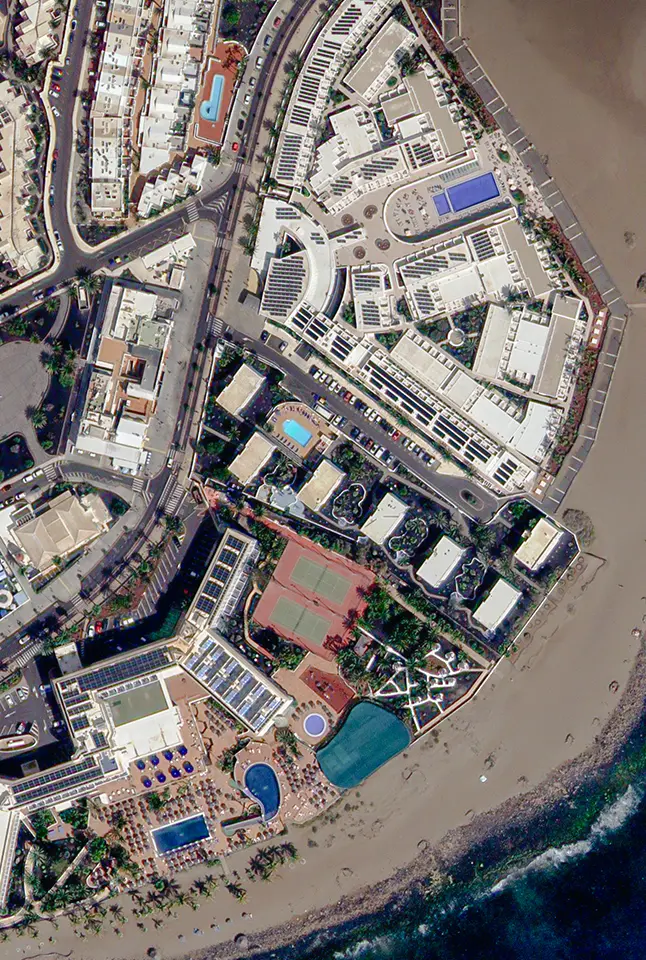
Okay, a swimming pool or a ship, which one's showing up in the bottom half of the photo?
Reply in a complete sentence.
What appears in the bottom half of the photo is a swimming pool.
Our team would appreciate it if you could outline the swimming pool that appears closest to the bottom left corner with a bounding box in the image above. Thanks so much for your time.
[152,814,210,856]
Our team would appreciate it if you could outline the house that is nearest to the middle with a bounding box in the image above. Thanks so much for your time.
[297,460,346,515]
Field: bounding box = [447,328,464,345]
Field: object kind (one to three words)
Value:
fountain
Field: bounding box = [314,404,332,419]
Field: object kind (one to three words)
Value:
vehicle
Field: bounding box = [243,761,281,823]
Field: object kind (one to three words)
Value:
swimming pool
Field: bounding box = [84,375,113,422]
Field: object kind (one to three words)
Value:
building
